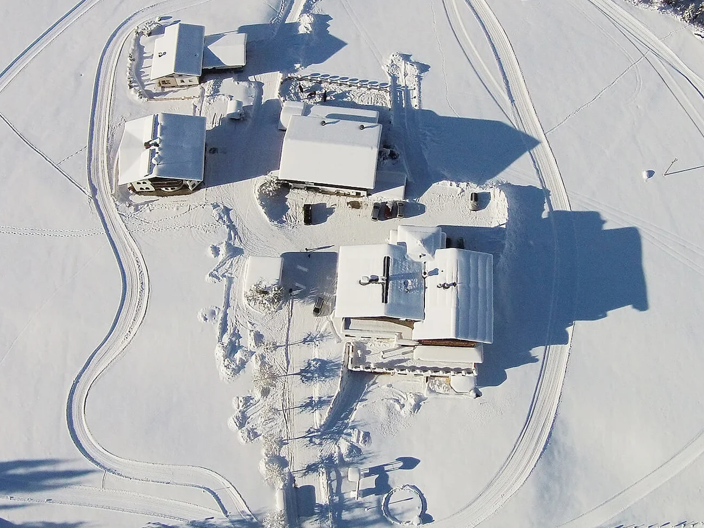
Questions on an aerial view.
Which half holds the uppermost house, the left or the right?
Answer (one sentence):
The uppermost house is on the left side of the image.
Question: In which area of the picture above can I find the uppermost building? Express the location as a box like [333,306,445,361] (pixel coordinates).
[151,22,247,99]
